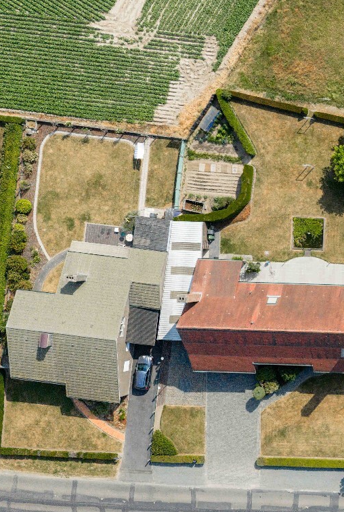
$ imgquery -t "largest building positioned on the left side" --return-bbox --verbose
[5,240,167,405]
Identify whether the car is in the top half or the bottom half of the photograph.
bottom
